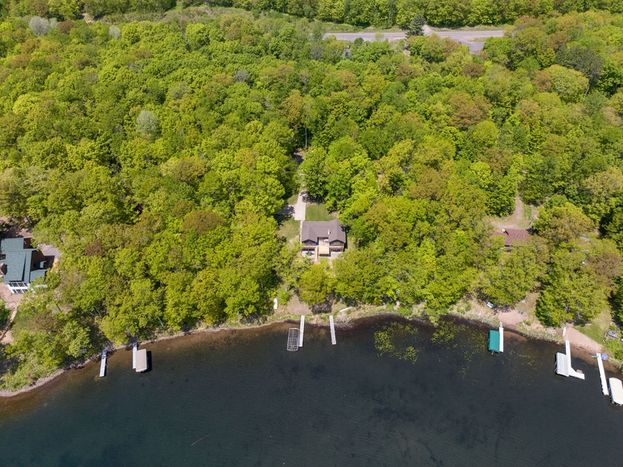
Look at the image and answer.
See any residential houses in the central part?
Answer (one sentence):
Yes, the scene does show a residential house in the central part.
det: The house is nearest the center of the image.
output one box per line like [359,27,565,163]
[301,218,346,266]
